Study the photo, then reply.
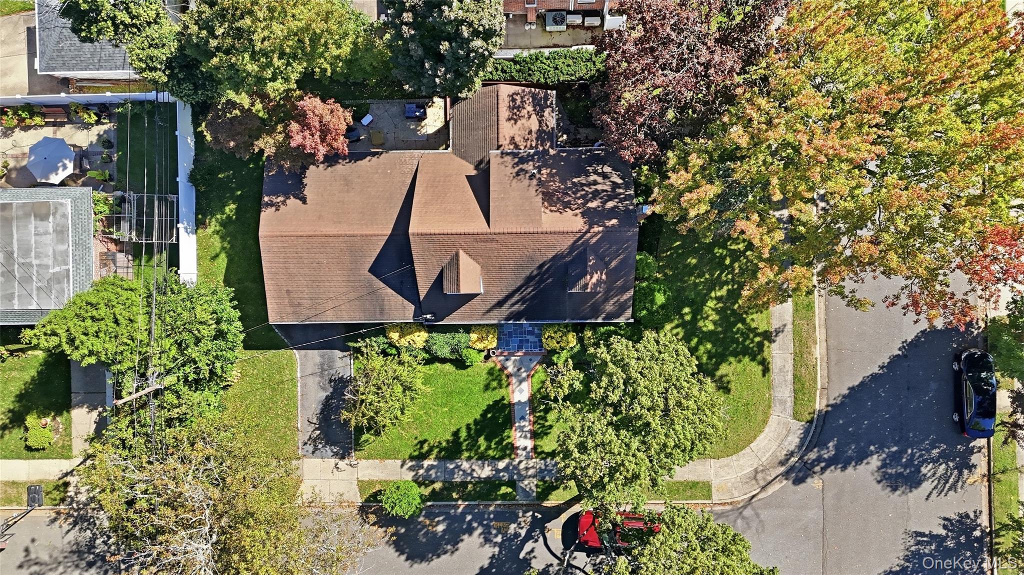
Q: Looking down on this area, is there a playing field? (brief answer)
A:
No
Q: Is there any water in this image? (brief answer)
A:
No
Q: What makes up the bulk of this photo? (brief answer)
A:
trees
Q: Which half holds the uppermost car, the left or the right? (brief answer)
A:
right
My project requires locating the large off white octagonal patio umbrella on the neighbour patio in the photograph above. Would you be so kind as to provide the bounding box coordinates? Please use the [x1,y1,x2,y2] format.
[29,135,88,187]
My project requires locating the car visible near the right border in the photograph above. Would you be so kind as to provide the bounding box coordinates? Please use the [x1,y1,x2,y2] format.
[950,349,996,439]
